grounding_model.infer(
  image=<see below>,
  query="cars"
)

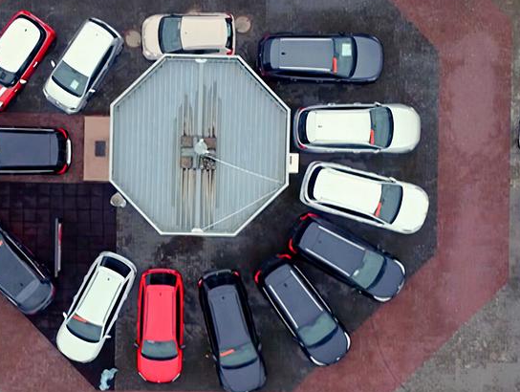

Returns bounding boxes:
[301,160,428,232]
[0,221,55,319]
[130,269,188,381]
[197,269,265,392]
[142,7,235,61]
[0,8,56,111]
[60,249,139,366]
[43,17,123,114]
[294,98,420,157]
[256,255,349,366]
[289,209,406,300]
[0,123,71,176]
[258,26,383,86]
